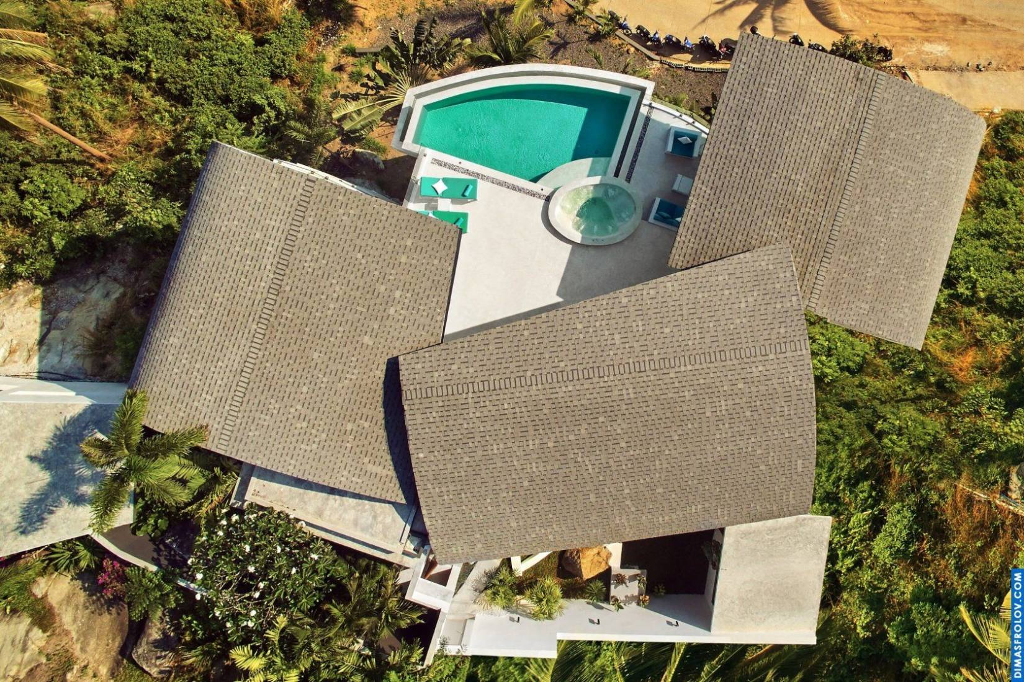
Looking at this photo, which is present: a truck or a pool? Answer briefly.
pool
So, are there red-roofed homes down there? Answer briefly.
No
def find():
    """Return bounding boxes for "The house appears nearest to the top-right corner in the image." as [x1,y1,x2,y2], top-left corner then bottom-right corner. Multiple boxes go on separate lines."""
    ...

[670,34,985,351]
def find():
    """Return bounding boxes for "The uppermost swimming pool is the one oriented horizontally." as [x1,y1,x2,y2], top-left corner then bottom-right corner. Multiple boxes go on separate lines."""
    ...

[392,63,655,192]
